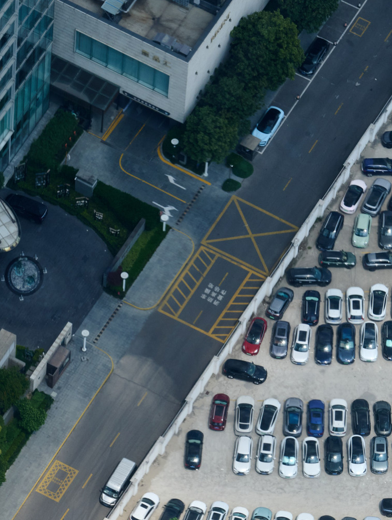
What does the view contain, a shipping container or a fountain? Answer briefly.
fountain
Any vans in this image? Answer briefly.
Yes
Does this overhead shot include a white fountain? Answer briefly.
No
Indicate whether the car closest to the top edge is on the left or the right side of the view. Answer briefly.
right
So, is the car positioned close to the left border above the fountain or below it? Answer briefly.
above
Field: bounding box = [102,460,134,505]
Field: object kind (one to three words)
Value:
van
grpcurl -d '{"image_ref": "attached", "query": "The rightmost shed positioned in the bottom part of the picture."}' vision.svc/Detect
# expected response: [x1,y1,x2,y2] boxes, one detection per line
[48,346,70,383]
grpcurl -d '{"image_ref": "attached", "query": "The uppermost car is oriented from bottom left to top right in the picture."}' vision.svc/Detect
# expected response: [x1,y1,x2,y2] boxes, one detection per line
[300,38,330,75]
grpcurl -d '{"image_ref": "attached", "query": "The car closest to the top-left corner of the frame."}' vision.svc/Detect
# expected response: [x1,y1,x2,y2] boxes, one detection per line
[5,193,50,224]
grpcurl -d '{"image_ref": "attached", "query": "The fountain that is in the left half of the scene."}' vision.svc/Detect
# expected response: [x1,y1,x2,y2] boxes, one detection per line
[4,257,44,292]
